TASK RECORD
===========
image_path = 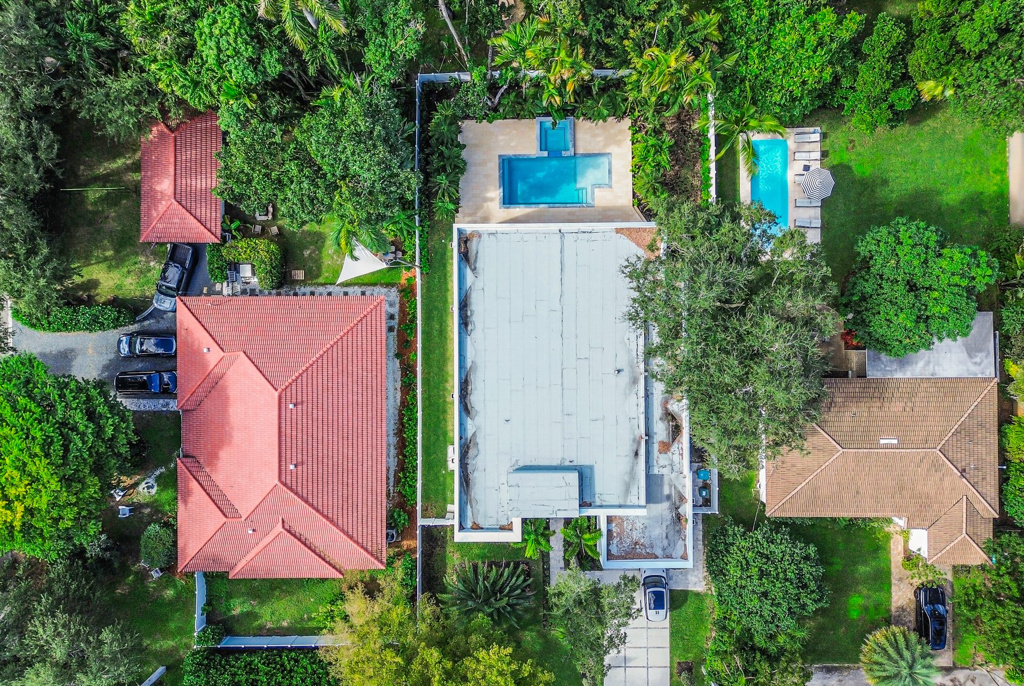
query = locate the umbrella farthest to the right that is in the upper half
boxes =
[800,167,833,201]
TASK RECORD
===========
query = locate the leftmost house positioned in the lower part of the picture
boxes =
[174,295,386,580]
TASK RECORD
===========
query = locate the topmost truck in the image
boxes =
[151,242,202,315]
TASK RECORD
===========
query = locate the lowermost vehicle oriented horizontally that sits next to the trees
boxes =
[113,368,176,398]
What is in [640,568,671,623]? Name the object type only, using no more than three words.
car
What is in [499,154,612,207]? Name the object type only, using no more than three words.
swimming pool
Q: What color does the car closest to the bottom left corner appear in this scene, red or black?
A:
black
